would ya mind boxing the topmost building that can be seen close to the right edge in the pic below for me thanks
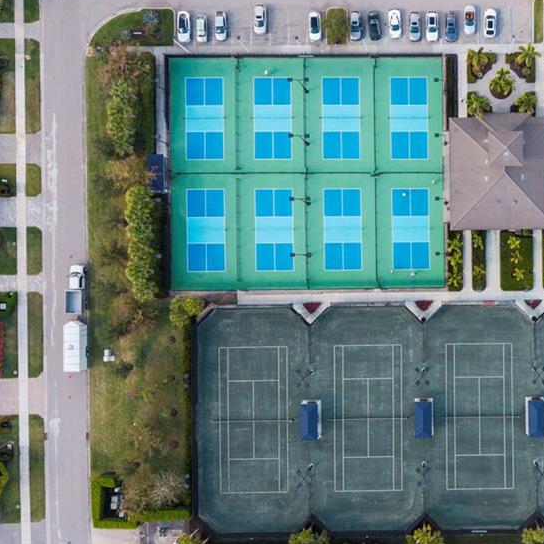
[449,113,544,230]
